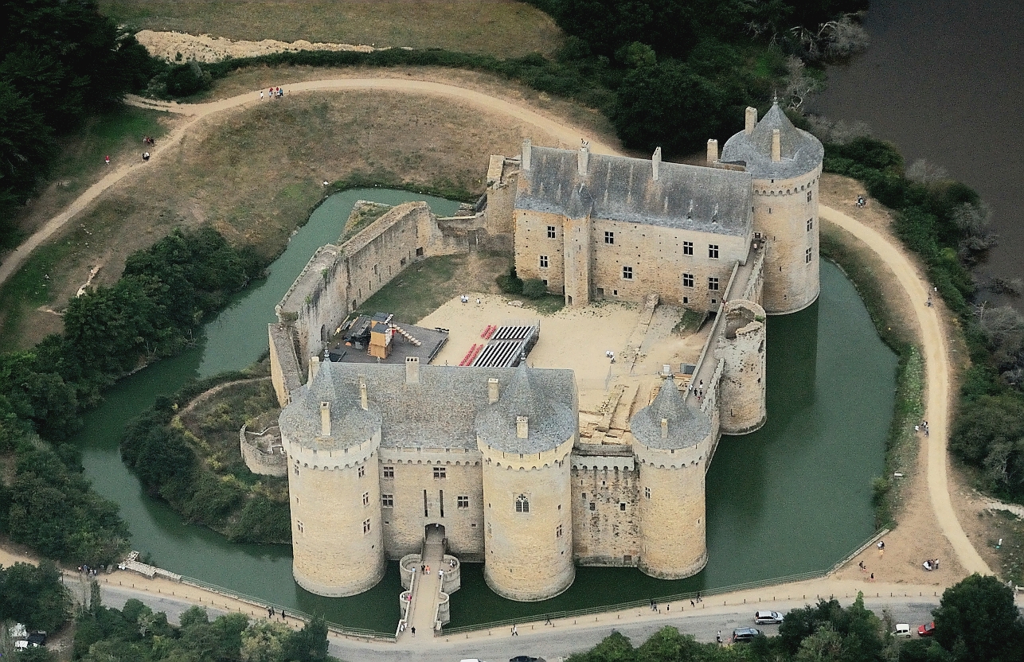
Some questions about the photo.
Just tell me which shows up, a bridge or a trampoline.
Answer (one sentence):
This aerial view contains a bridge.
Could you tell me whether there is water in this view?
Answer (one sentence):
Yes, the picture does contain water.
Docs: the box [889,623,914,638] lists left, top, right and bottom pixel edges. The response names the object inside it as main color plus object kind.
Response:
white car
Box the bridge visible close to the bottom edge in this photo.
[394,538,463,653]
